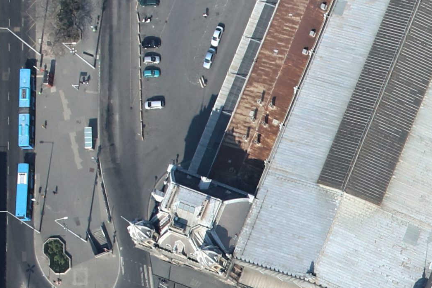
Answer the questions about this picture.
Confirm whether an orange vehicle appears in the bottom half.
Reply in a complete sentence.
No, in the bottom half there is no orange vehicle.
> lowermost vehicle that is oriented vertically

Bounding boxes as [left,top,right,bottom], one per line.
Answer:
[16,163,33,222]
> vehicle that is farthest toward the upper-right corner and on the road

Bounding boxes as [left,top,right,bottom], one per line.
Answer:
[211,26,225,49]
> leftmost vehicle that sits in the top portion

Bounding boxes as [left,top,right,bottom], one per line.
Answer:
[18,68,35,150]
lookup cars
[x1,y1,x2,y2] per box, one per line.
[144,54,162,64]
[211,26,225,49]
[140,0,161,8]
[142,39,163,50]
[203,49,217,70]
[144,68,162,78]
[144,100,165,110]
